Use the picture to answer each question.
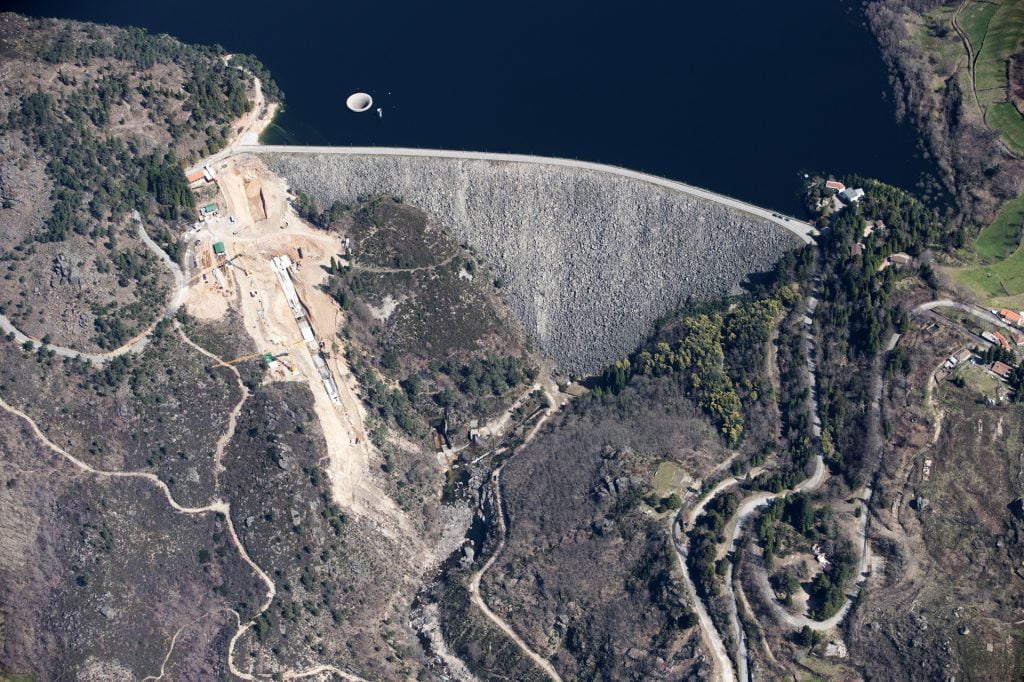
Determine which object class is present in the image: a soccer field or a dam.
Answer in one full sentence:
Of the two, only a dam appears.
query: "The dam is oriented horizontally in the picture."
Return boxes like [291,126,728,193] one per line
[238,145,820,381]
